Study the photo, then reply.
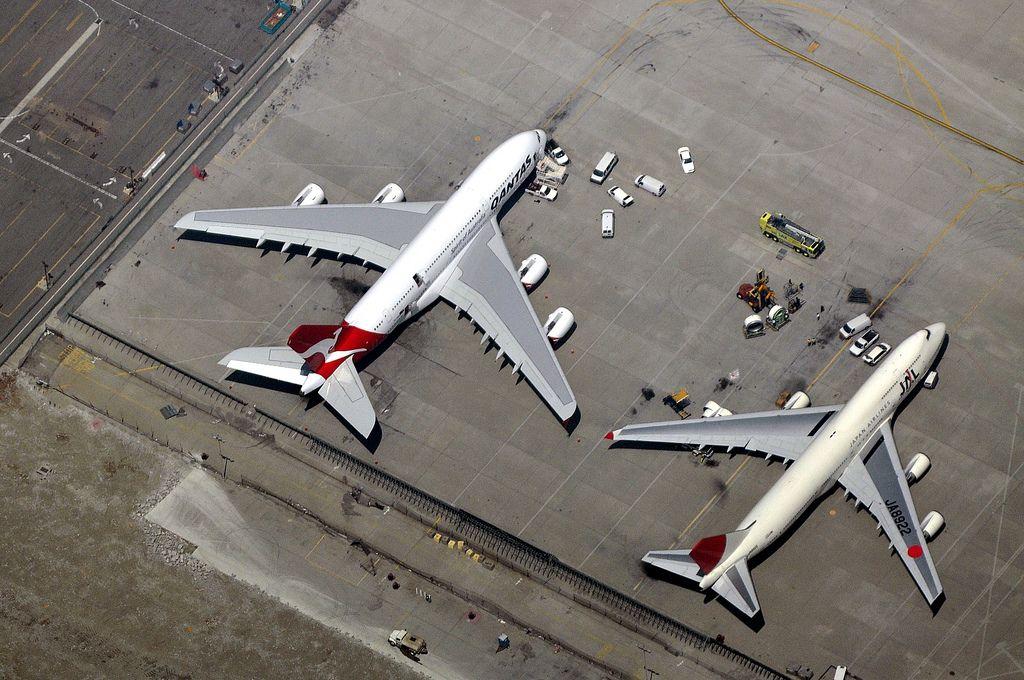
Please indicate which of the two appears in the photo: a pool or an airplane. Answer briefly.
airplane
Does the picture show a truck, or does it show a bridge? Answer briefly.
truck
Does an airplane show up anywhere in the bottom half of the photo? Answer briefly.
Yes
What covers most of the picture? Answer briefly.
paved ground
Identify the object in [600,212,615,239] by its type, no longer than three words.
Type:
vehicle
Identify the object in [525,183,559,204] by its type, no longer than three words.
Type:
truck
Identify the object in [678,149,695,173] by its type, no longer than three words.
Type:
car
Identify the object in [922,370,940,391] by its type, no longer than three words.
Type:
vehicle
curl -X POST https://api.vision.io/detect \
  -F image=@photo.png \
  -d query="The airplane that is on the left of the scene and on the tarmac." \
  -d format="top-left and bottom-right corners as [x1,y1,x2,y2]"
[170,131,578,440]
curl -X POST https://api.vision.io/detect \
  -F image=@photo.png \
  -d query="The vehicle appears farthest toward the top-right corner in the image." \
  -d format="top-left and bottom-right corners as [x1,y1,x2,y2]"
[758,213,826,260]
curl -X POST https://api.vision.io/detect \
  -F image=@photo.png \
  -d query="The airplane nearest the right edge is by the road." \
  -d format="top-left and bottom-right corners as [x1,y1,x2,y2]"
[606,323,947,620]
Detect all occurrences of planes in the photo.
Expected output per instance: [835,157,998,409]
[170,131,578,440]
[606,323,947,620]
